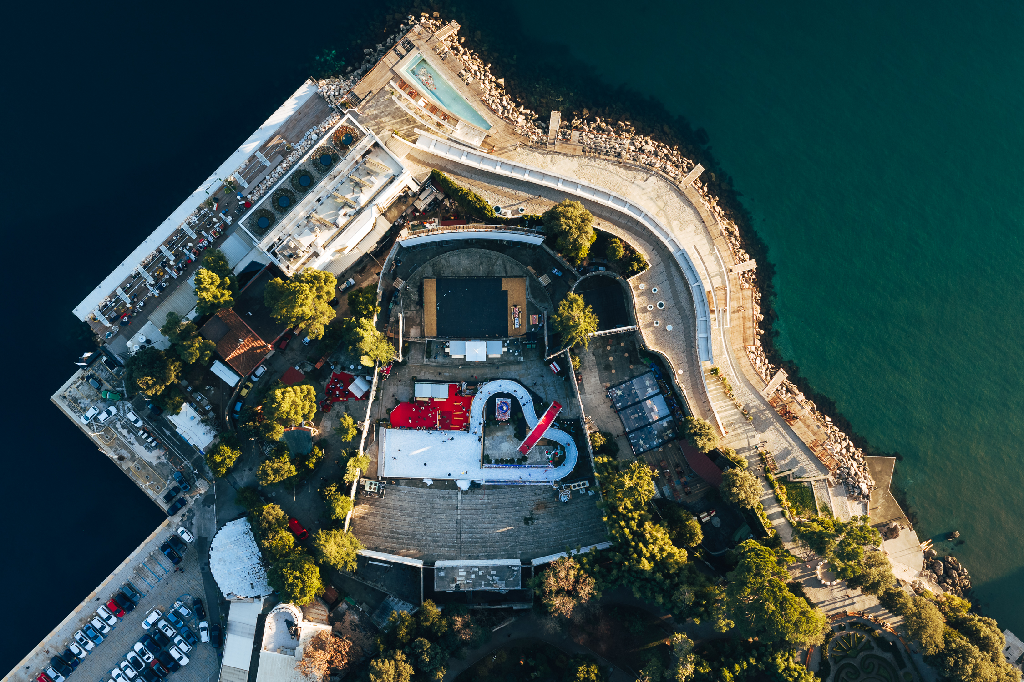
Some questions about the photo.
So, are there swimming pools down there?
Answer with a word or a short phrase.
Yes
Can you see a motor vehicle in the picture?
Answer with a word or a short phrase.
Yes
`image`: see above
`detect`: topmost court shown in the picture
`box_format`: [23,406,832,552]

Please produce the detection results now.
[378,379,590,485]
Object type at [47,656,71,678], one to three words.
car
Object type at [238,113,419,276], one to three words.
building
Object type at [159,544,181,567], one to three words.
car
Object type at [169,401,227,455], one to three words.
building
